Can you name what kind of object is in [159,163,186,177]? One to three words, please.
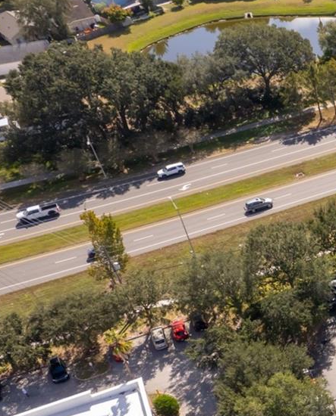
car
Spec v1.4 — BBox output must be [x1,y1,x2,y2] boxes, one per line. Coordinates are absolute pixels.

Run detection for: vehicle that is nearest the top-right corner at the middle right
[245,197,273,212]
